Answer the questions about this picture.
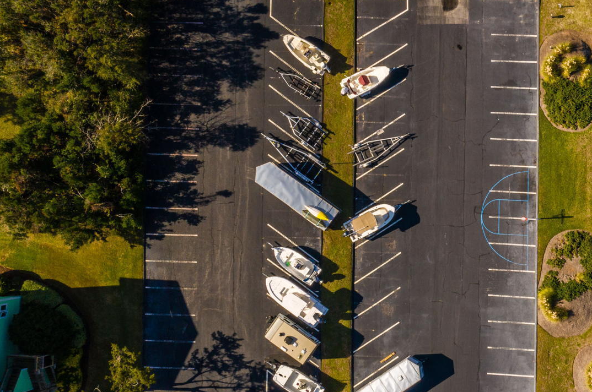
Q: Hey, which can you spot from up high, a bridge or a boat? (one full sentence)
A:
There is a boat in the scene.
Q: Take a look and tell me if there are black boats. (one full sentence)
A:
No, the photo shows no black boat.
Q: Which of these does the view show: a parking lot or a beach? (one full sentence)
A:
The picture captures a parking lot.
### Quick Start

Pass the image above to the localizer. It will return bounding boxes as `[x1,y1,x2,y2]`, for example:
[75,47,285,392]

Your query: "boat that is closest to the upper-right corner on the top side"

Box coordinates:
[340,66,390,99]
